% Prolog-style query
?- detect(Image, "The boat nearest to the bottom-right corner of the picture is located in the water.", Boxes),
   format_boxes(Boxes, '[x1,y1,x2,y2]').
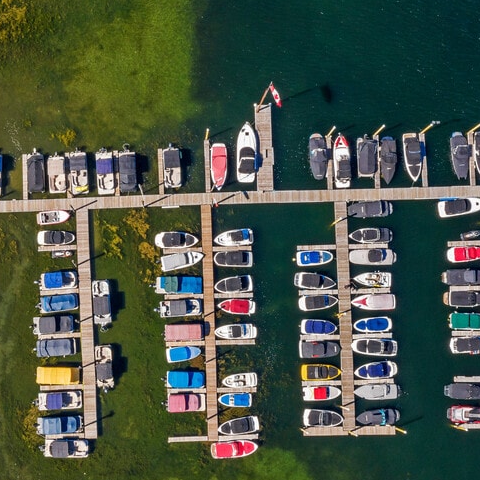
[443,405,480,424]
